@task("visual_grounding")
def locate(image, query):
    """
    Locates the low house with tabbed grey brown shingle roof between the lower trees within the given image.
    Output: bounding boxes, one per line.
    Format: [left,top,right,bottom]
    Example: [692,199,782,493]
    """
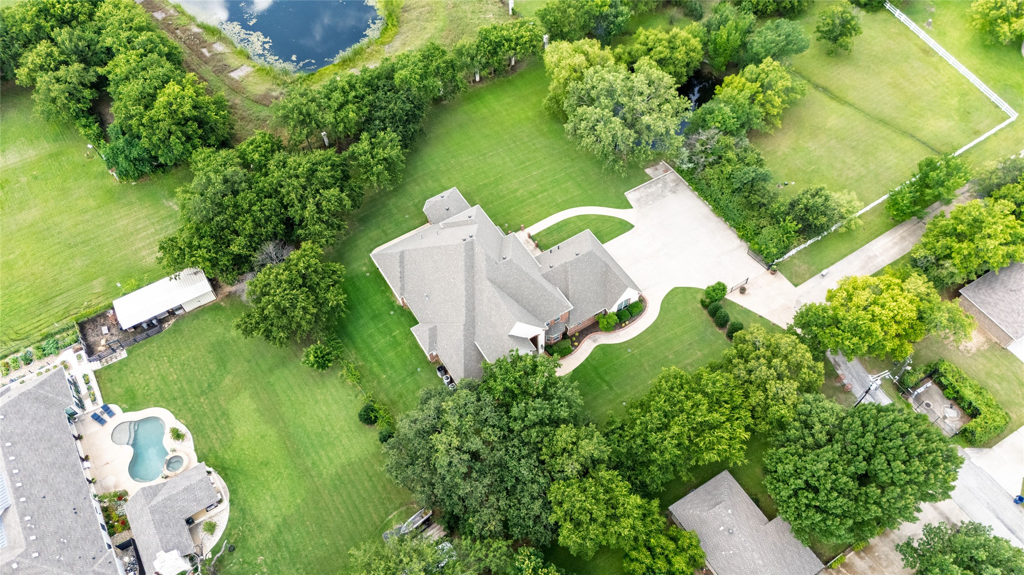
[667,469,827,575]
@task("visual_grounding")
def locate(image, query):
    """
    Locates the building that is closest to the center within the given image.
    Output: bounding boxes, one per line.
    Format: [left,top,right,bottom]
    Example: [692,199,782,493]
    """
[369,187,644,403]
